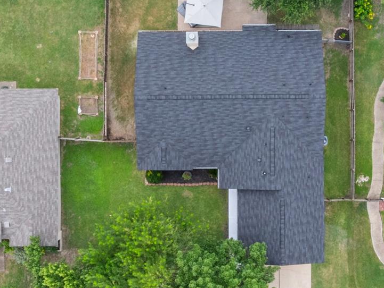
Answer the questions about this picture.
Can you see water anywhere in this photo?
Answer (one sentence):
No, the picture contains no water.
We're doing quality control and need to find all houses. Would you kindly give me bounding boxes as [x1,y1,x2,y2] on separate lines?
[0,88,62,256]
[135,24,325,266]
